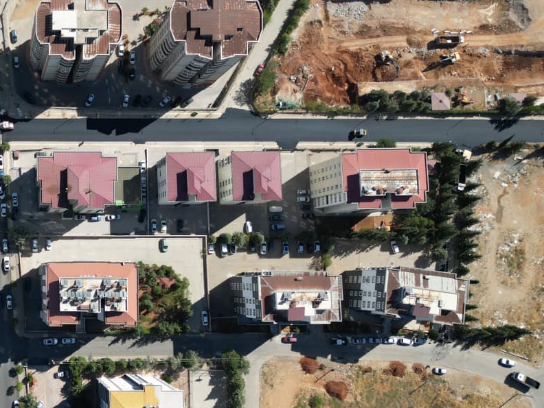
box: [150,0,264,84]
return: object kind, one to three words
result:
building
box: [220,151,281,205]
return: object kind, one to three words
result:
building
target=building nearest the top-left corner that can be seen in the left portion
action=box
[32,0,122,84]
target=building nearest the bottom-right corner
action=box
[347,266,470,326]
